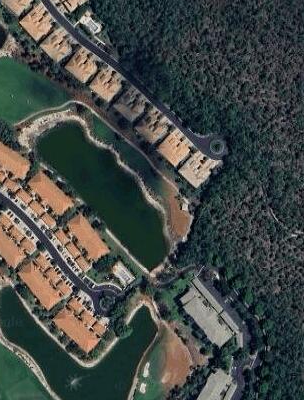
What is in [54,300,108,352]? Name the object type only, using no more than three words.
house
